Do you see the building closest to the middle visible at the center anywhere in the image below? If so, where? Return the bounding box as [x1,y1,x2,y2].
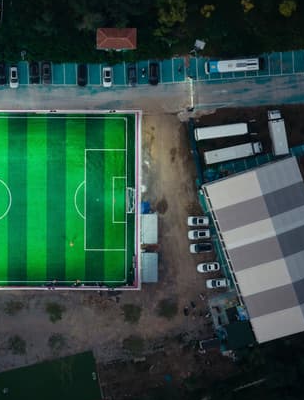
[141,214,158,244]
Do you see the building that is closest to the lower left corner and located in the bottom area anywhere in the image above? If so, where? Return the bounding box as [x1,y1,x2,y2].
[141,252,158,282]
